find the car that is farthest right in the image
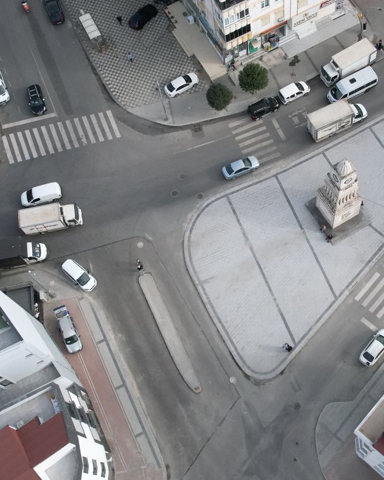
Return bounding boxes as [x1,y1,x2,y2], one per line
[358,327,384,371]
